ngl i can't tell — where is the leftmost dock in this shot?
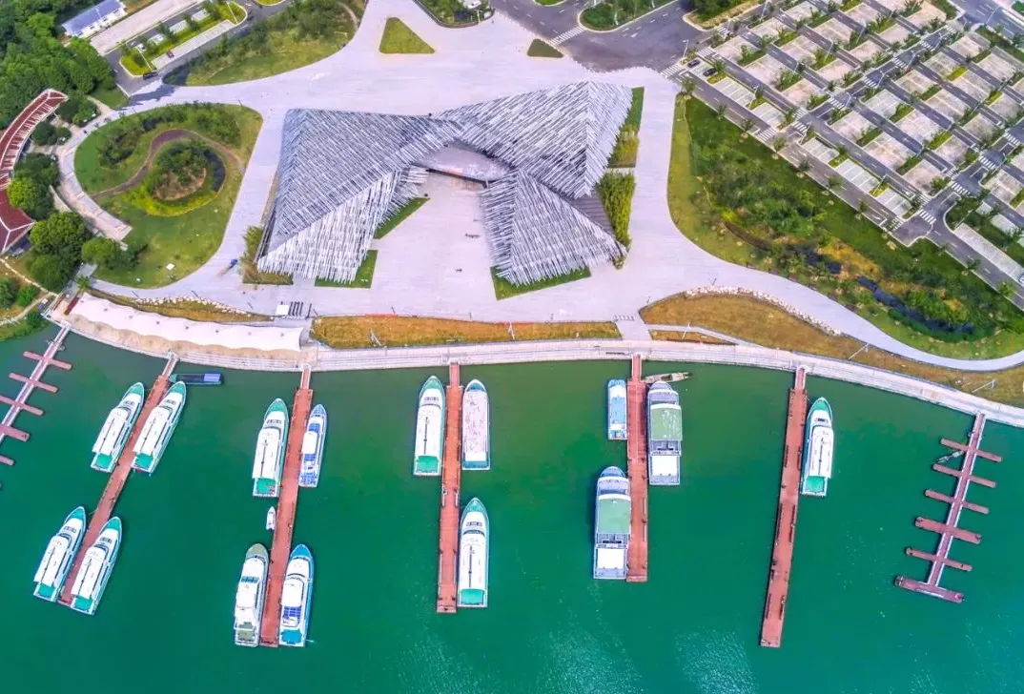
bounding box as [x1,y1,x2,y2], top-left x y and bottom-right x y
[0,323,74,465]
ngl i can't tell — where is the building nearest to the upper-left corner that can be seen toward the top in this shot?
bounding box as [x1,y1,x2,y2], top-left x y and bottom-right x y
[60,0,128,39]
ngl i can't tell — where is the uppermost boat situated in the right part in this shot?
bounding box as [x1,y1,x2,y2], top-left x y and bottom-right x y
[644,371,691,383]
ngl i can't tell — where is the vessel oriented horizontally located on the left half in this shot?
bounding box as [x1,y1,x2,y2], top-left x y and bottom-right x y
[171,372,223,384]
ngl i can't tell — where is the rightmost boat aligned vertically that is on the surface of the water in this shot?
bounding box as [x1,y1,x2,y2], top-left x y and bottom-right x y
[799,396,836,500]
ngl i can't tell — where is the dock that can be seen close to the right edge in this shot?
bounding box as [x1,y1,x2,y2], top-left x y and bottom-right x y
[895,409,1002,602]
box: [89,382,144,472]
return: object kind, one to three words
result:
boat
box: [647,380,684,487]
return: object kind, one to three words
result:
ship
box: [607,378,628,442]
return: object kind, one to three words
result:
vessel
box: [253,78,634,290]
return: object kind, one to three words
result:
building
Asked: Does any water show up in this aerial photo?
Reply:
Yes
